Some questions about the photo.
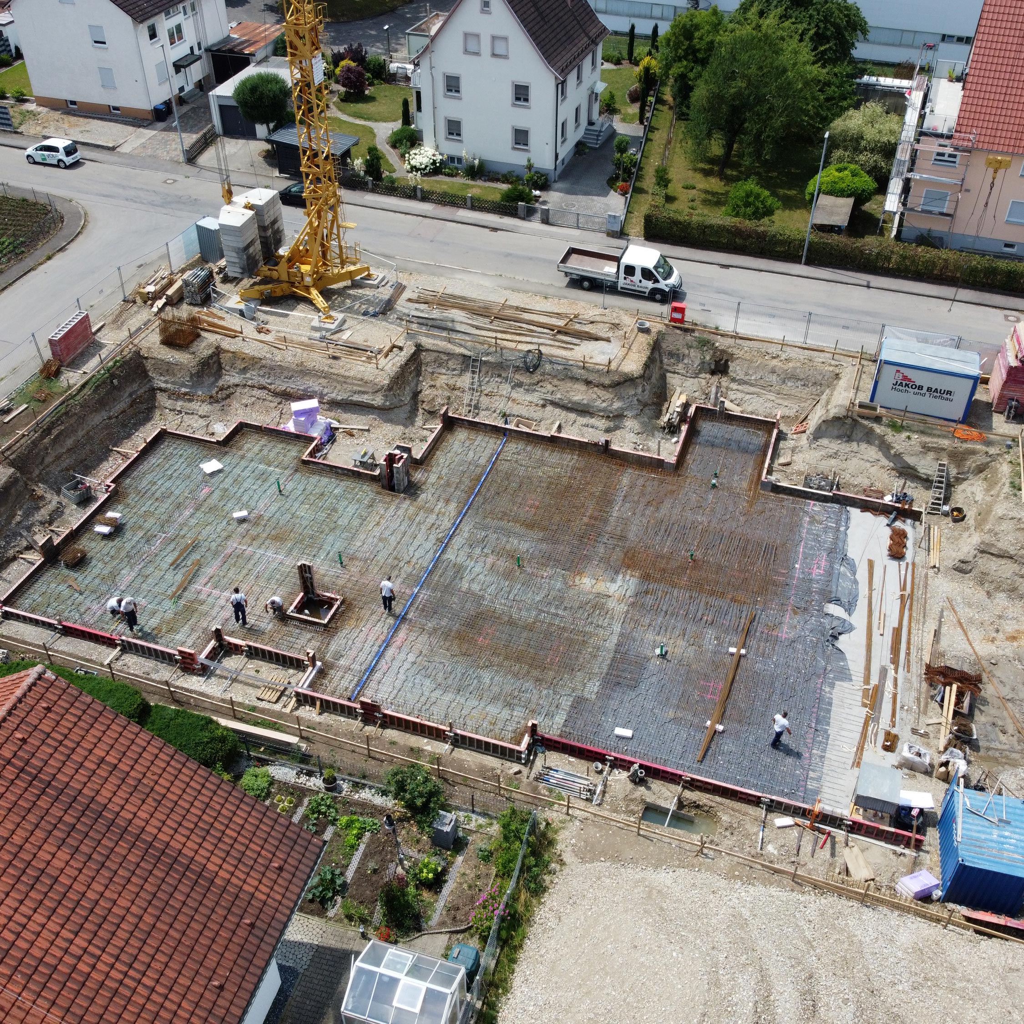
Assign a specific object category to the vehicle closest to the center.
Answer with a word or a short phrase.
truck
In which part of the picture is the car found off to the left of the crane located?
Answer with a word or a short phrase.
top left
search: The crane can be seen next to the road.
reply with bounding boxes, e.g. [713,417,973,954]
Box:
[237,0,377,325]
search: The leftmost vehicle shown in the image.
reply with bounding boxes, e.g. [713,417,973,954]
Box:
[21,137,82,168]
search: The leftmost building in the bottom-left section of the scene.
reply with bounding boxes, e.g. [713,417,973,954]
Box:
[0,665,334,1024]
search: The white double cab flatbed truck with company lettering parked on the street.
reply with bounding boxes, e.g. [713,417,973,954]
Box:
[559,238,695,302]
